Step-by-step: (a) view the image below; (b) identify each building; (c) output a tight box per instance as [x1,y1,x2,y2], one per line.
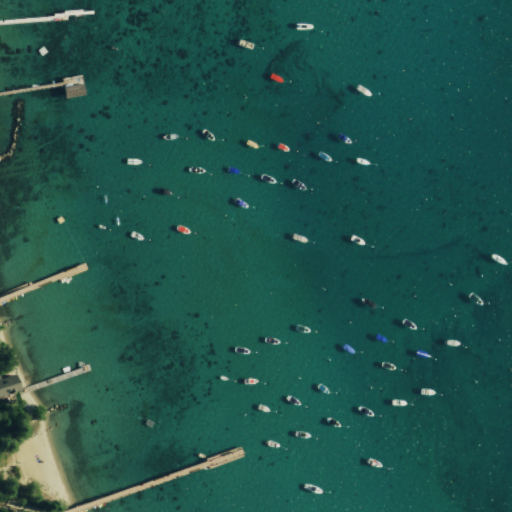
[65,83,86,98]
[2,376,20,388]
